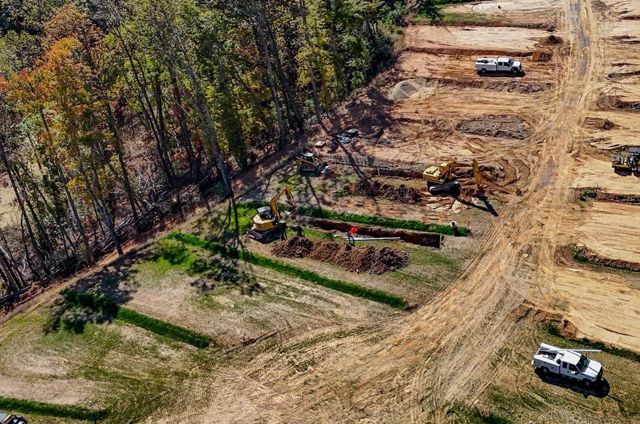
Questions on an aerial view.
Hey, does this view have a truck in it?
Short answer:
Yes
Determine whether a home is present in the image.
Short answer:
No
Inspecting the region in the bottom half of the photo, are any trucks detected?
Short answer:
Yes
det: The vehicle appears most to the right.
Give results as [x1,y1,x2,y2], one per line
[609,138,640,168]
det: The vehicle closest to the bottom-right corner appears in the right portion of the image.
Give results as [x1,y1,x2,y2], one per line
[530,338,608,385]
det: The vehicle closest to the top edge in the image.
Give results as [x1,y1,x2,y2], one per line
[474,52,523,70]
